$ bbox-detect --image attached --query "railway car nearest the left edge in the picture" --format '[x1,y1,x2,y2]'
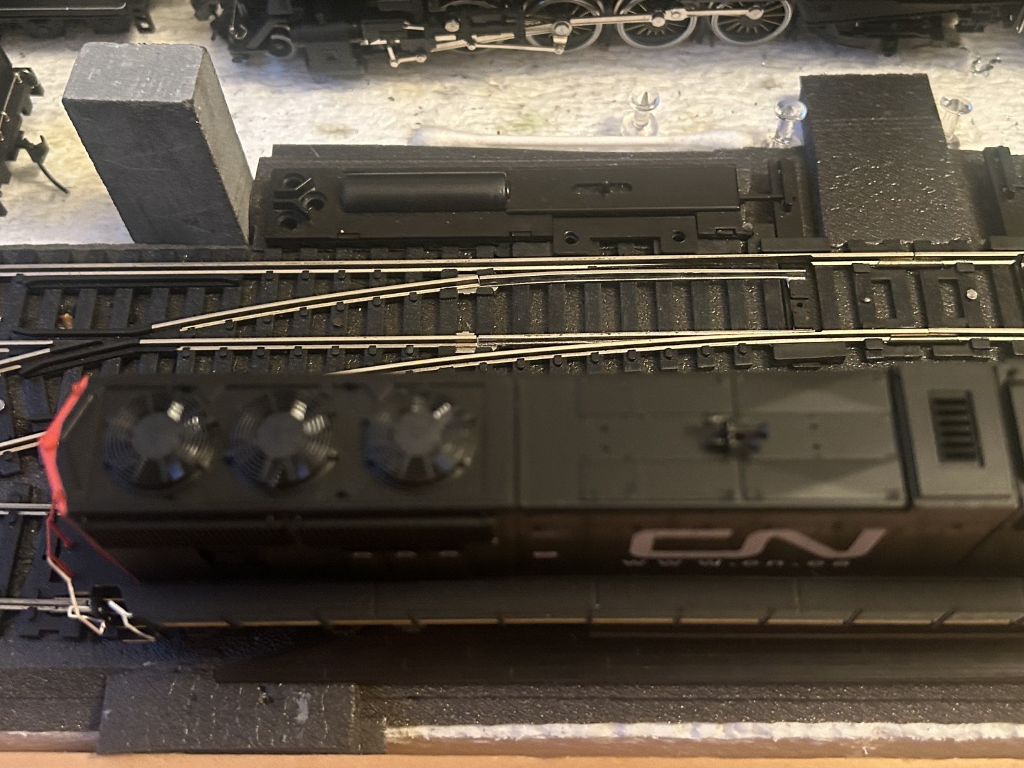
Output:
[0,29,73,234]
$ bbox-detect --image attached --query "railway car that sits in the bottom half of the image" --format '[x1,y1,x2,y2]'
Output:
[35,360,1024,659]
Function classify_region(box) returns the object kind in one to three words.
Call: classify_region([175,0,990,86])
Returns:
rail car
